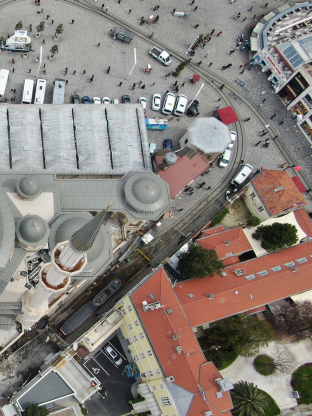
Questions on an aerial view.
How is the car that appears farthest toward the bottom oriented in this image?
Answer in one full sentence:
Seen from above, the car that appears farthest toward the bottom lies on a diagonal.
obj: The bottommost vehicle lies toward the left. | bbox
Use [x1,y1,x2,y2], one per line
[103,343,124,366]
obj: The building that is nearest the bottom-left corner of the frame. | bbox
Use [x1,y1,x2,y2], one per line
[0,371,75,416]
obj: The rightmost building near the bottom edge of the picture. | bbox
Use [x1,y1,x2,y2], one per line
[113,265,238,416]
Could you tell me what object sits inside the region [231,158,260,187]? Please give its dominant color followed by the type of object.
white vehicle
